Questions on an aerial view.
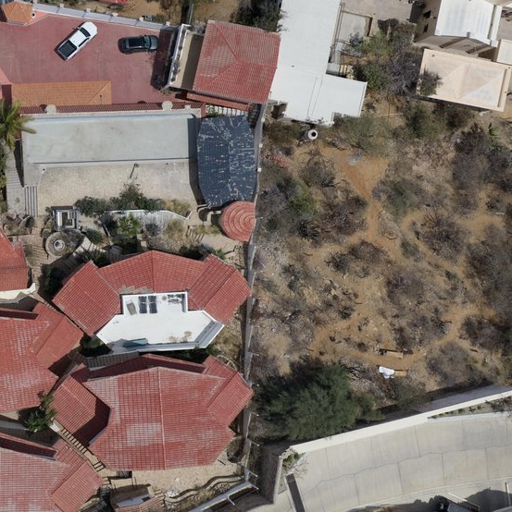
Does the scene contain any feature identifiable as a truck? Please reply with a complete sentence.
Yes, there's a truck down there.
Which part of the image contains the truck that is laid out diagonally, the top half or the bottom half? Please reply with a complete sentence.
The top half of the photo is where the truck that is laid out diagonally is.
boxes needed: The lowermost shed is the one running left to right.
[109,488,165,512]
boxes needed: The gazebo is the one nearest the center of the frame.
[213,202,255,240]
